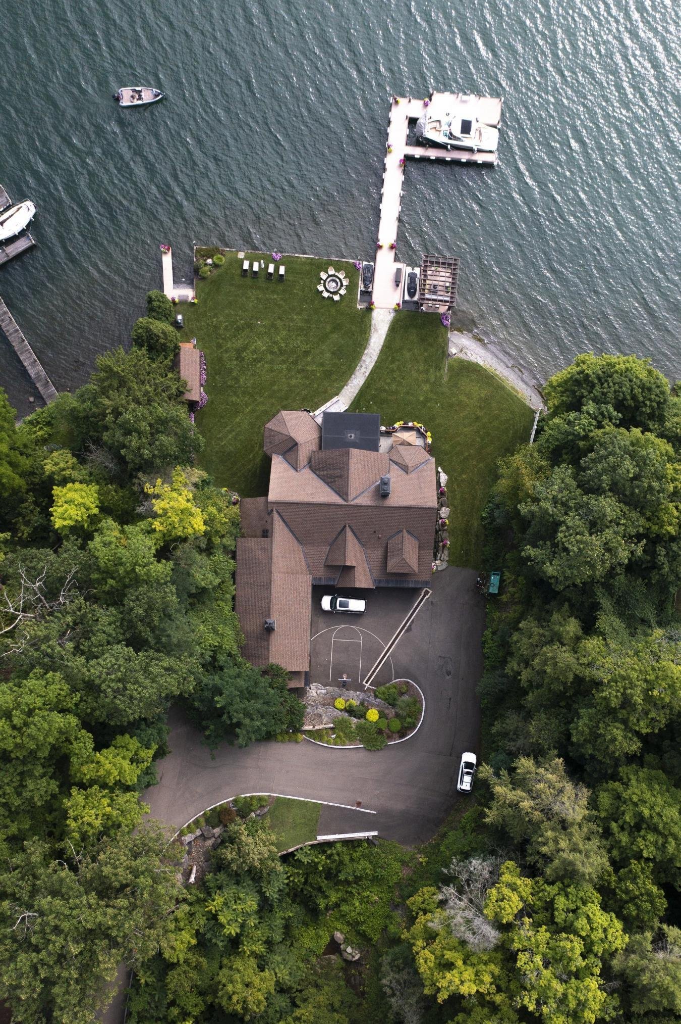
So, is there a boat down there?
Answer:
Yes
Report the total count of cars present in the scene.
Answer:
two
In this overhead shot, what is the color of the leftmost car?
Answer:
white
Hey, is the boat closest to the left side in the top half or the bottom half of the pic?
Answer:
top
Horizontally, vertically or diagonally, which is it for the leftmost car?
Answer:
horizontally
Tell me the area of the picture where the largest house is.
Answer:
center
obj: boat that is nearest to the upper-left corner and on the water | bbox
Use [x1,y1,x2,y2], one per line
[113,84,164,103]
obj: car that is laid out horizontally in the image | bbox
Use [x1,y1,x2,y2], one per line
[321,594,367,616]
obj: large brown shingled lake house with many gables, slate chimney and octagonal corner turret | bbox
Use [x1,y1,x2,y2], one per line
[235,410,439,687]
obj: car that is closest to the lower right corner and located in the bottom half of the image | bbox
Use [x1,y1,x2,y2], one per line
[457,753,480,795]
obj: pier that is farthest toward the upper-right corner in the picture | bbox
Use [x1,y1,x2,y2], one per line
[371,92,504,310]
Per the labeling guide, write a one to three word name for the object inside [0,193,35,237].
boat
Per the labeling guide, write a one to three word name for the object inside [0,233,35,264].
pier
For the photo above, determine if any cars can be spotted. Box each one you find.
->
[457,753,480,795]
[321,594,367,616]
